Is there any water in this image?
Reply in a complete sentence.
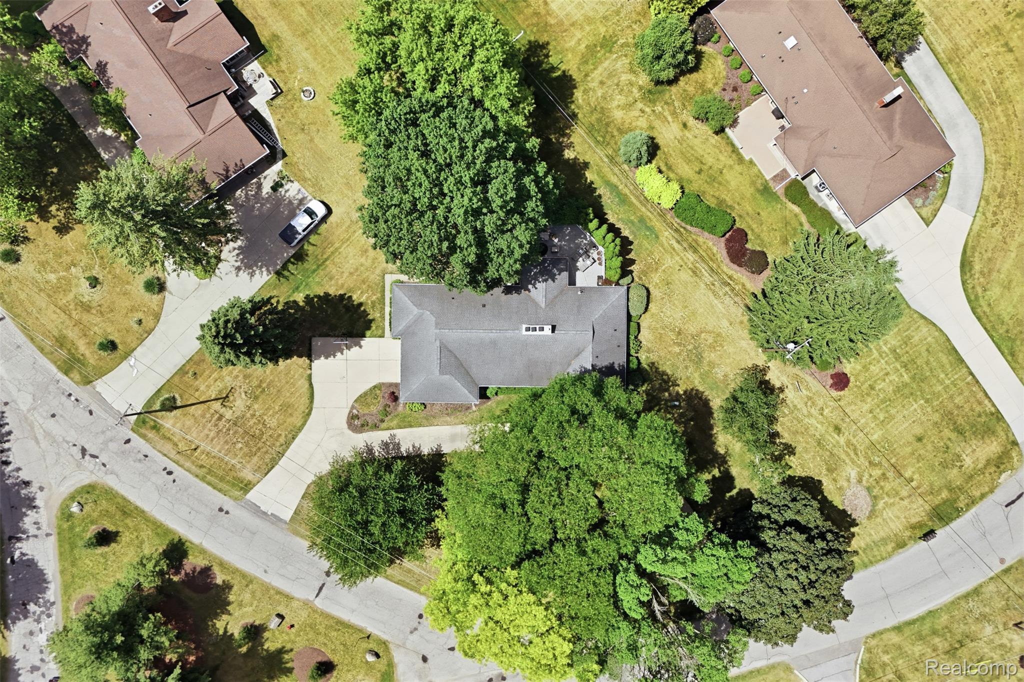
No, there's no water in this view.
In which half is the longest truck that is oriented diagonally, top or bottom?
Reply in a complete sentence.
You can find the longest truck that is oriented diagonally in the top half.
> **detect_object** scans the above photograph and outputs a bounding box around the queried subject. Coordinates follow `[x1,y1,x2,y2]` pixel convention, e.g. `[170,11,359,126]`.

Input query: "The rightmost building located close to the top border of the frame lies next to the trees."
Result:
[710,0,956,228]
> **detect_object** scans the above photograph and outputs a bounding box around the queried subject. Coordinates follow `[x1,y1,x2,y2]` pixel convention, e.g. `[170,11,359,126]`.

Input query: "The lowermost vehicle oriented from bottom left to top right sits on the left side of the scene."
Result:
[279,200,330,247]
